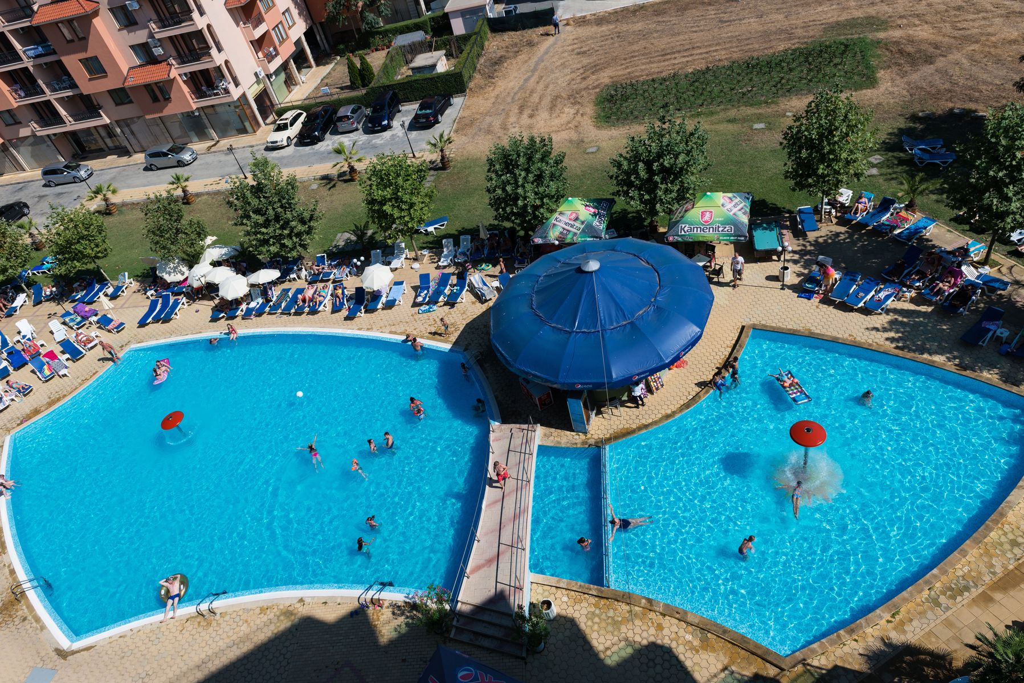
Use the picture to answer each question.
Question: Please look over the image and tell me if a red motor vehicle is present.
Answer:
No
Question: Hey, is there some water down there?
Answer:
Yes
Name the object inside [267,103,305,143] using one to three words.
car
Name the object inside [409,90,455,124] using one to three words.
car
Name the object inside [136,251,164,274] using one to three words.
umbrella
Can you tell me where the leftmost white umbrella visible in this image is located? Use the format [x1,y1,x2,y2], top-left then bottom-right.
[96,292,120,321]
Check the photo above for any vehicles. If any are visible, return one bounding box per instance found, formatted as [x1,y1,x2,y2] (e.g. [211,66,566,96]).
[409,90,455,124]
[0,199,29,222]
[138,137,196,166]
[298,100,335,136]
[34,155,92,183]
[362,83,401,126]
[328,98,367,128]
[267,103,305,143]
